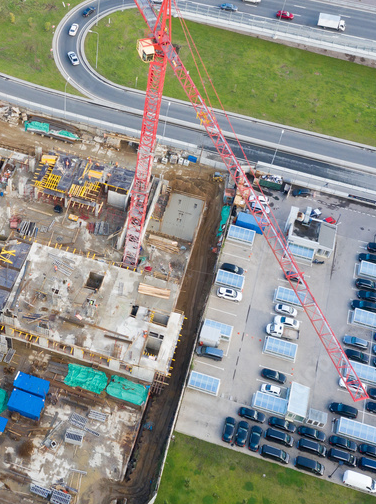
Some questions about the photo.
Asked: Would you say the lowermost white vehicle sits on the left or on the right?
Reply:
right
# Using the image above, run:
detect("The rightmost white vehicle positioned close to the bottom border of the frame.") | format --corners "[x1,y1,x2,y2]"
[343,467,376,492]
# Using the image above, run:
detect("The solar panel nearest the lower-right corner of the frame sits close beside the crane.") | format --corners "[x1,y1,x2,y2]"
[340,417,376,443]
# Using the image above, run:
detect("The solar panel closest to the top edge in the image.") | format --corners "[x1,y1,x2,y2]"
[228,226,255,243]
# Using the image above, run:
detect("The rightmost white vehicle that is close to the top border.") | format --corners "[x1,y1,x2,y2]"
[316,10,346,27]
